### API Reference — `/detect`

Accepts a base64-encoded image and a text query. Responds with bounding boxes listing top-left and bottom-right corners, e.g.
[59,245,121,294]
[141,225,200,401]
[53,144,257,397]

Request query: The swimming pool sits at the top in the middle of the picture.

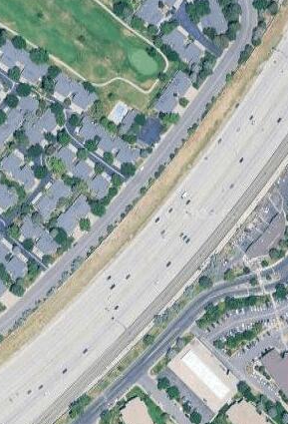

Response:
[107,104,128,124]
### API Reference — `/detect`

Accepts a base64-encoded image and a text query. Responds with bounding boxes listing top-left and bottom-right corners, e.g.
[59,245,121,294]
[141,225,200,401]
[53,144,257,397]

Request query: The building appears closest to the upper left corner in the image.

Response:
[0,40,49,84]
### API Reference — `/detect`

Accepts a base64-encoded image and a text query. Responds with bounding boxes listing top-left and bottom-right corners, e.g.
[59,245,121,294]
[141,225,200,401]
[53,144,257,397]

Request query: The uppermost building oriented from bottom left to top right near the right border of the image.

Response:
[247,213,286,254]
